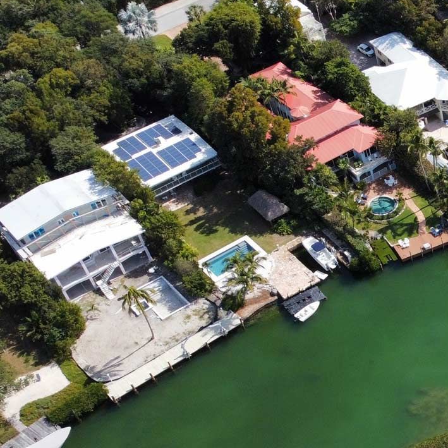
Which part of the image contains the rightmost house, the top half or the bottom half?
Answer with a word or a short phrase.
top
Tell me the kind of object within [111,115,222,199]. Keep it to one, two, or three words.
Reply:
house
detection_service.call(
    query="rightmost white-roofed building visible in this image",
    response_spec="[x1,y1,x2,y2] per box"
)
[366,33,448,132]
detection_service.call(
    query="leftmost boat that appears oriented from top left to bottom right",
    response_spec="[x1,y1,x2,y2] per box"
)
[303,237,338,271]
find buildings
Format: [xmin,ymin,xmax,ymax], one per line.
[245,191,293,231]
[366,33,448,132]
[258,57,395,179]
[111,115,222,199]
[0,166,154,303]
[281,14,350,62]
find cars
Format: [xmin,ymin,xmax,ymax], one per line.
[357,44,371,58]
